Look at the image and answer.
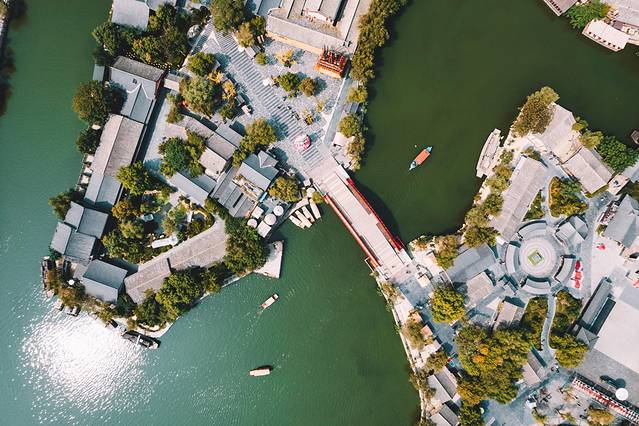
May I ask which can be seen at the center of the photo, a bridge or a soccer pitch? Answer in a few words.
bridge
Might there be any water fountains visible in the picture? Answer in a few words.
No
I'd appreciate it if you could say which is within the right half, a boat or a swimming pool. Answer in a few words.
boat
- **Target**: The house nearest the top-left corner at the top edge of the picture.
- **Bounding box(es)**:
[112,0,160,34]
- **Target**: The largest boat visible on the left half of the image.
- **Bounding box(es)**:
[119,329,163,352]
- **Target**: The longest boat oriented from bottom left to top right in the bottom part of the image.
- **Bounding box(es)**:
[261,294,278,309]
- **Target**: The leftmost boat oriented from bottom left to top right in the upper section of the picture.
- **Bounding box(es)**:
[407,147,432,170]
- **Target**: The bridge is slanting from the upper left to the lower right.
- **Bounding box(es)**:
[316,167,411,279]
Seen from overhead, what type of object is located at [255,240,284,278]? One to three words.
pier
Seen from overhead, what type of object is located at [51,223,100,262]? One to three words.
house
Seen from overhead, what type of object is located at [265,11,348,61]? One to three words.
building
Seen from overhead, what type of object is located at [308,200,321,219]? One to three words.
boat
